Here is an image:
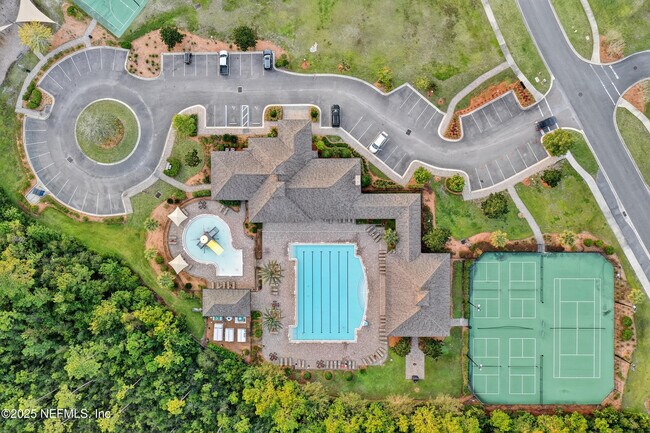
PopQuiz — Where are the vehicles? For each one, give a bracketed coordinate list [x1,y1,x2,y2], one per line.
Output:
[535,116,557,130]
[183,53,191,65]
[219,51,229,76]
[331,105,340,128]
[371,130,388,152]
[263,50,272,70]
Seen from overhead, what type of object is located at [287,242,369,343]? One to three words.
swimming pool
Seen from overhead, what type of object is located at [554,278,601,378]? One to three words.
tennis court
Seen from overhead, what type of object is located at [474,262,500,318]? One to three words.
sports court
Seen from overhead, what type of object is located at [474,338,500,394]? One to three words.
sports court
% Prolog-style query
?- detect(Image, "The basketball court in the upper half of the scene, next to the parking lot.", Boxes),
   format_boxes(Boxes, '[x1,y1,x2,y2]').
[77,0,151,37]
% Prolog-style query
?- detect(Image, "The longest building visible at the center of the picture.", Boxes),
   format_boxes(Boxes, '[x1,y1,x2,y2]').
[211,120,451,336]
